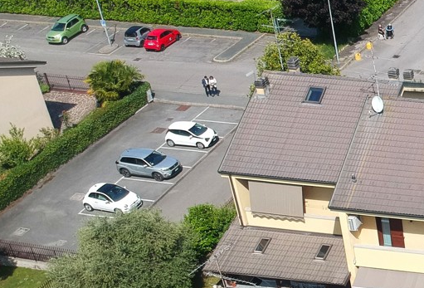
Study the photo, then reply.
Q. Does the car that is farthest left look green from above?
Yes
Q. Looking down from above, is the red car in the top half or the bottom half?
top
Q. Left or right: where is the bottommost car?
left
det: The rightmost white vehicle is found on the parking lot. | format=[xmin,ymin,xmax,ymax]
[159,118,217,150]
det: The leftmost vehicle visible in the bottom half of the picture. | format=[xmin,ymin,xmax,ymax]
[76,178,143,215]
